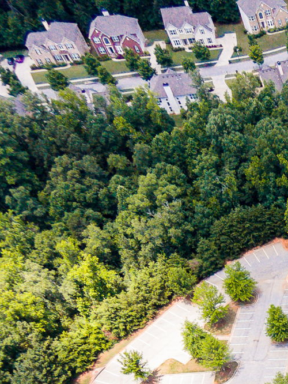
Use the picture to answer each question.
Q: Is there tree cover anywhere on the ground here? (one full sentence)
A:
Yes, there's tree cover in this view.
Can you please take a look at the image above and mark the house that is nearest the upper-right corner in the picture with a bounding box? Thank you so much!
[237,0,288,33]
